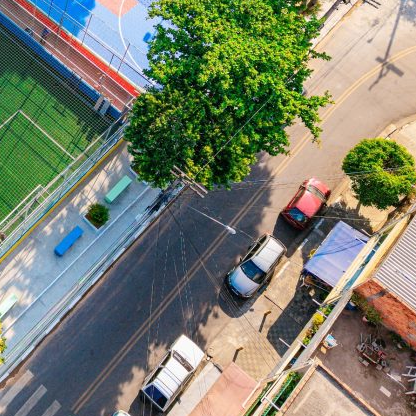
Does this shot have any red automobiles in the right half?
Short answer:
Yes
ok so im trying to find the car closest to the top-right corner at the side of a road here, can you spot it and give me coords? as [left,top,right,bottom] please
[285,175,339,234]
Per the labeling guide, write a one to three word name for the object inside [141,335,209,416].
car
